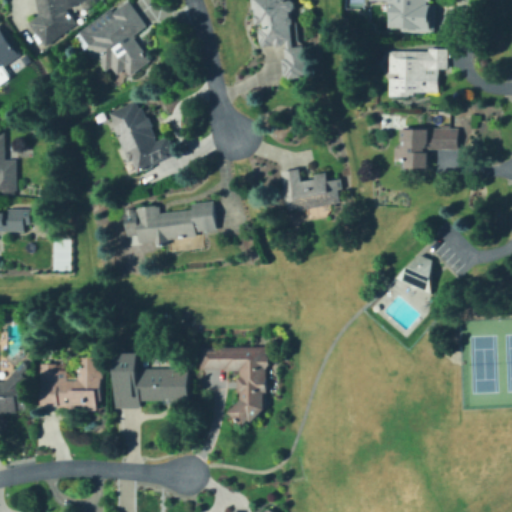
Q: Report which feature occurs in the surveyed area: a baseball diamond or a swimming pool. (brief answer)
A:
swimming pool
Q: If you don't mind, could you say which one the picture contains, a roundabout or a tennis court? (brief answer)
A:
tennis court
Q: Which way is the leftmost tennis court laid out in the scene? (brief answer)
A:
from top to bottom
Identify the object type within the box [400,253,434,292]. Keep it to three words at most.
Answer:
building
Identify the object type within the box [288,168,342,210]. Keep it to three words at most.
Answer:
house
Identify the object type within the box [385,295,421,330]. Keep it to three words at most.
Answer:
swimming pool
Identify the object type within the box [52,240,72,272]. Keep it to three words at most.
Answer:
shed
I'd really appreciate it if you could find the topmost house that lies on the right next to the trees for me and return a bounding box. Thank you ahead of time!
[388,0,429,31]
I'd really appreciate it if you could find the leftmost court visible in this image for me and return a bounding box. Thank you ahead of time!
[462,319,502,409]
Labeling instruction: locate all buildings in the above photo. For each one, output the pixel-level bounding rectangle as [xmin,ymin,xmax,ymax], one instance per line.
[0,208,30,235]
[78,0,148,76]
[109,100,172,176]
[0,128,16,193]
[0,360,26,414]
[198,348,268,423]
[0,26,22,71]
[400,253,434,292]
[110,354,188,408]
[388,48,448,97]
[394,128,460,170]
[250,0,305,77]
[288,168,342,210]
[122,202,215,252]
[388,0,429,31]
[52,240,72,272]
[38,355,96,410]
[30,0,86,46]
